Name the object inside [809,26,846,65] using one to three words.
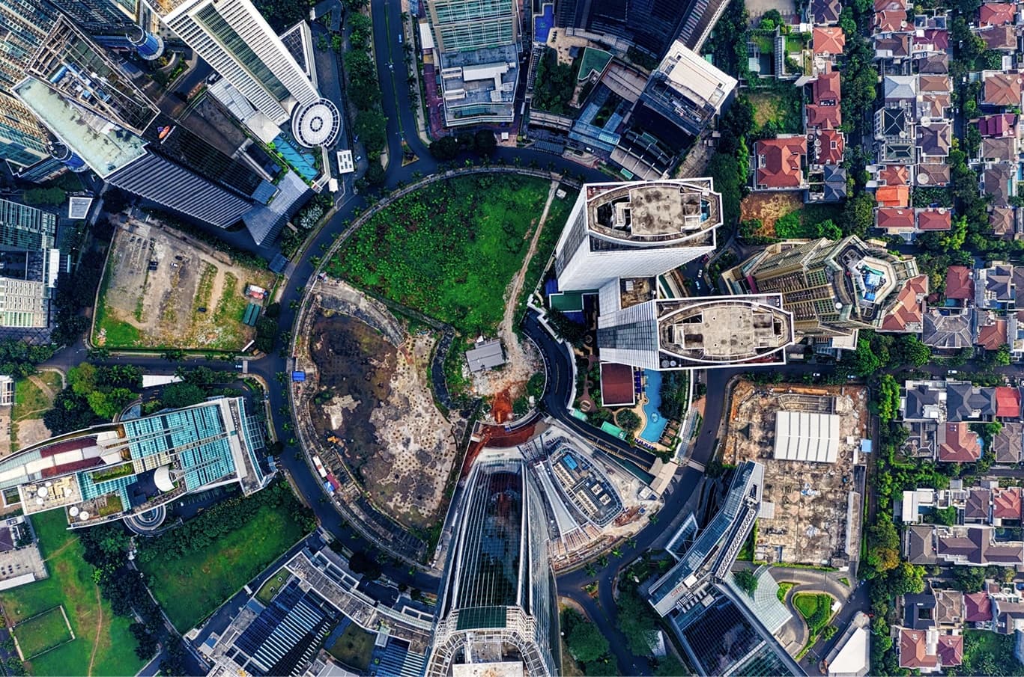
house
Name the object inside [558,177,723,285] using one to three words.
building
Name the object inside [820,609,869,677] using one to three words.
building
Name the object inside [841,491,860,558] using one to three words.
shed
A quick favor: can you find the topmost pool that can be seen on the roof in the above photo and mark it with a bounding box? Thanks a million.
[534,3,554,42]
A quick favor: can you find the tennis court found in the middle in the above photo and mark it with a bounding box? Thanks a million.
[547,277,599,326]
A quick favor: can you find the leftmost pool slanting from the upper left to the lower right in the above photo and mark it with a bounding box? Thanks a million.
[273,135,318,180]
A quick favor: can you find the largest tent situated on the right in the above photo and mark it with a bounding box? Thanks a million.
[771,410,840,463]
